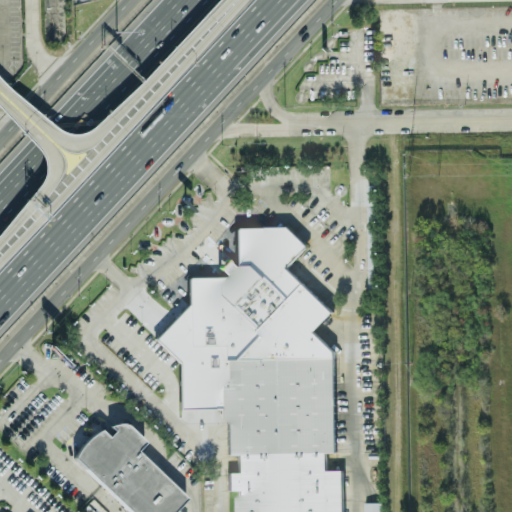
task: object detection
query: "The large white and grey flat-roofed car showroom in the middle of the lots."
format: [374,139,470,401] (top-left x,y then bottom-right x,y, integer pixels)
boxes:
[157,227,345,512]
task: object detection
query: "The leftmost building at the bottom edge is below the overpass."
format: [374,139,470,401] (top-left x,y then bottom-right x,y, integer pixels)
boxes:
[76,423,190,512]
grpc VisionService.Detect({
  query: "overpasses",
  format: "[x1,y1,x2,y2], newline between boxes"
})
[0,0,255,272]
